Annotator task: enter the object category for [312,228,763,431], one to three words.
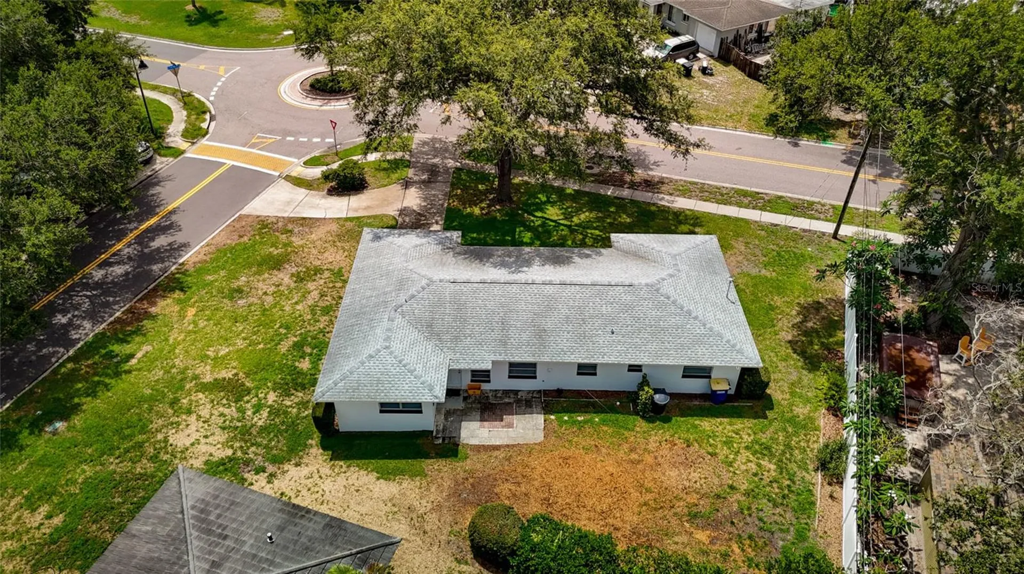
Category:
house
